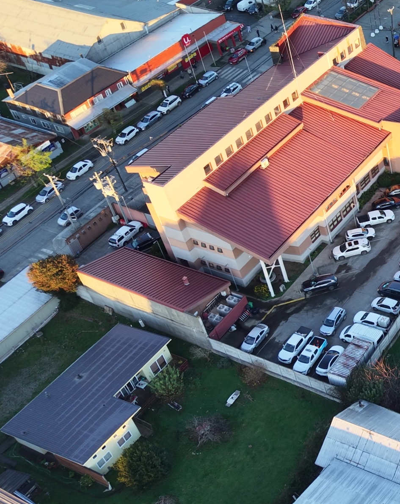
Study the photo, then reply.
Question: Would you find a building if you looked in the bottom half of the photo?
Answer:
Yes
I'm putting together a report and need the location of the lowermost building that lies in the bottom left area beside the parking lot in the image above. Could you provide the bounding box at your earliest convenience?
[0,314,192,478]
